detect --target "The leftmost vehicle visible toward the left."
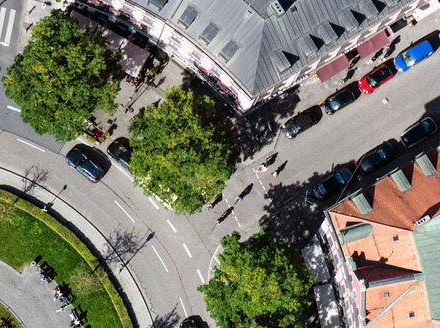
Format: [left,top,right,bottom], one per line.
[67,147,108,183]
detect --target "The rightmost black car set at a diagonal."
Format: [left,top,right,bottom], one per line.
[398,115,440,149]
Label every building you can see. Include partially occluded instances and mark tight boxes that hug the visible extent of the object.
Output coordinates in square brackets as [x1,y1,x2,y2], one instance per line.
[83,0,428,118]
[321,139,440,328]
